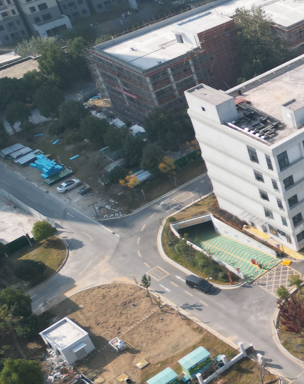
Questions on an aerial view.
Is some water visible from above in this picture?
No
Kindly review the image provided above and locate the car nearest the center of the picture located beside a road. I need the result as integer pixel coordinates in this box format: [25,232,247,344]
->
[56,180,82,194]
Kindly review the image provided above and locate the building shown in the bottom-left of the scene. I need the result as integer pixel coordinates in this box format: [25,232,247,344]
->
[41,317,94,364]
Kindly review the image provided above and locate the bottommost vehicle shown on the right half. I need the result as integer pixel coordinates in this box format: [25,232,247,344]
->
[185,271,214,294]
